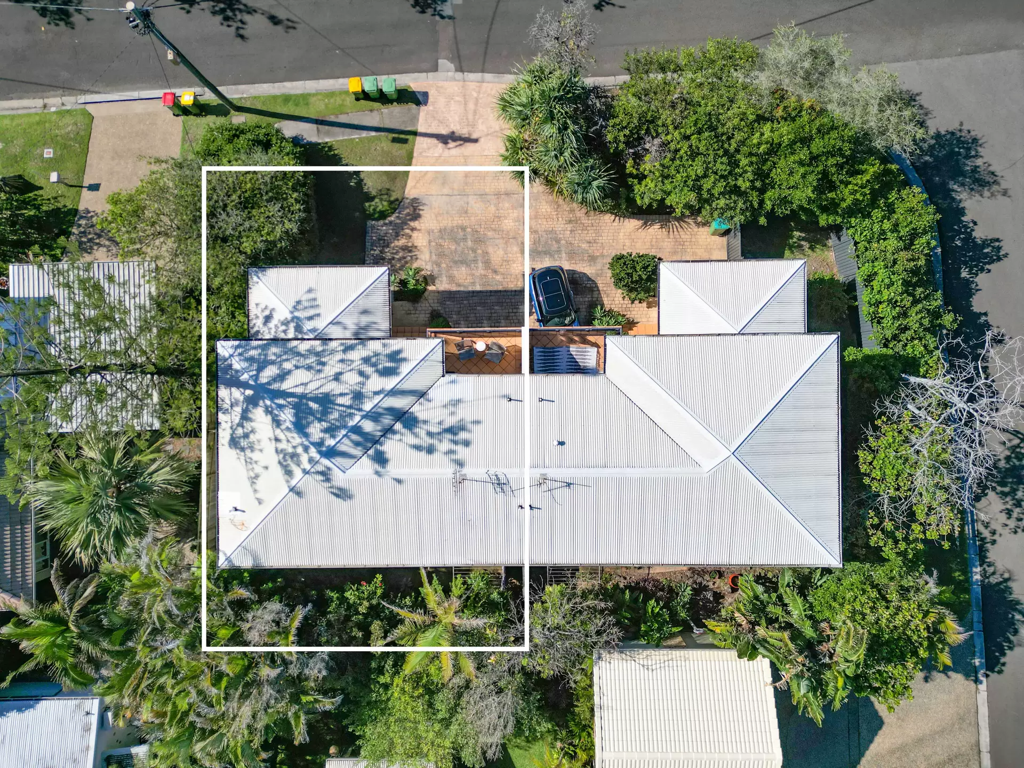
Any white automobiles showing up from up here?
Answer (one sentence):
No, no white automobile is visible in the view.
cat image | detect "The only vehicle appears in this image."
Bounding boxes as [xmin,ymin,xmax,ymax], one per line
[530,260,588,328]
